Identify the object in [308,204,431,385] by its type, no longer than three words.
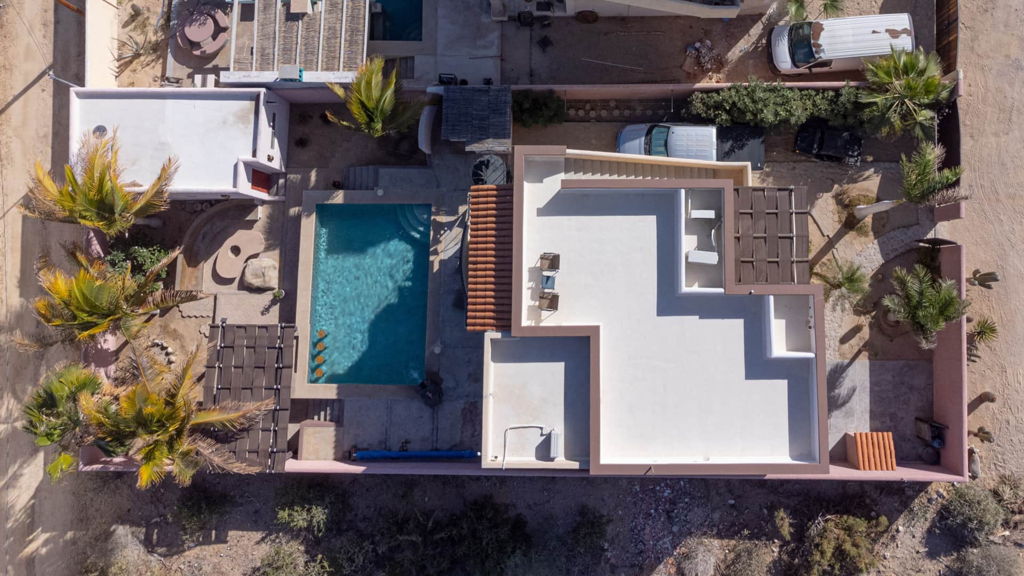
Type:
swimming pool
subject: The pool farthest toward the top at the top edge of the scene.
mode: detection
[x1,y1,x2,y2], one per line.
[369,0,422,41]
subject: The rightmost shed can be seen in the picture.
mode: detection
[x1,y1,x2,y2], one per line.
[846,429,898,471]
